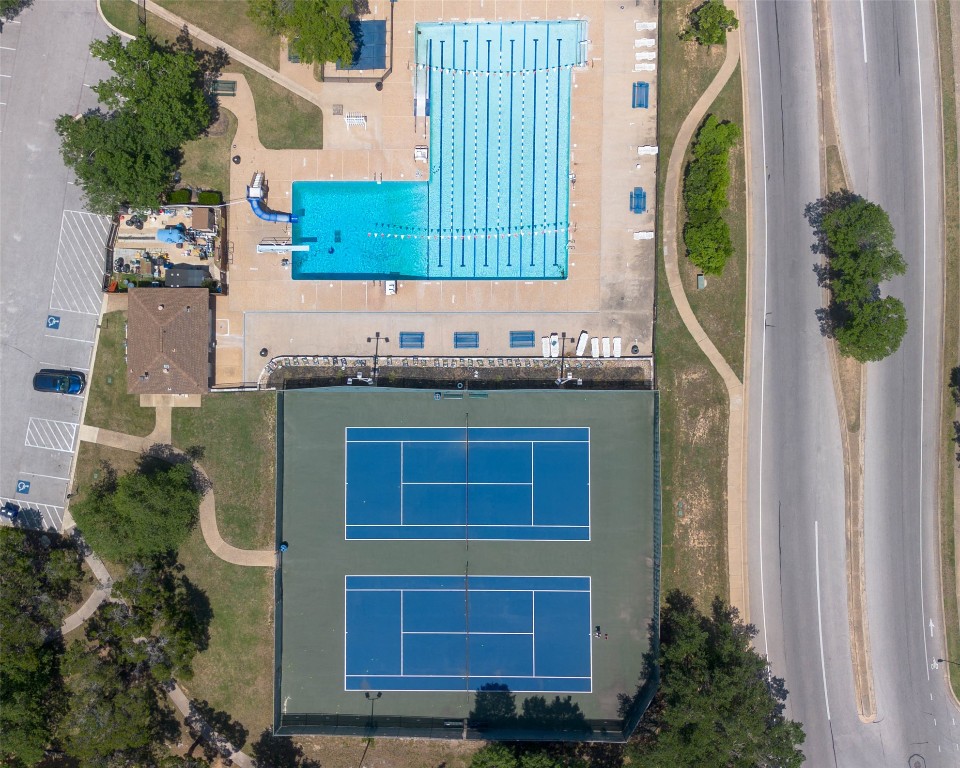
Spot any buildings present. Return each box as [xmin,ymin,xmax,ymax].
[191,206,221,233]
[124,287,218,394]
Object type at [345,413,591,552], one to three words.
tennis court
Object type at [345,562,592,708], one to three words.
tennis court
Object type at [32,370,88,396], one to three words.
car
